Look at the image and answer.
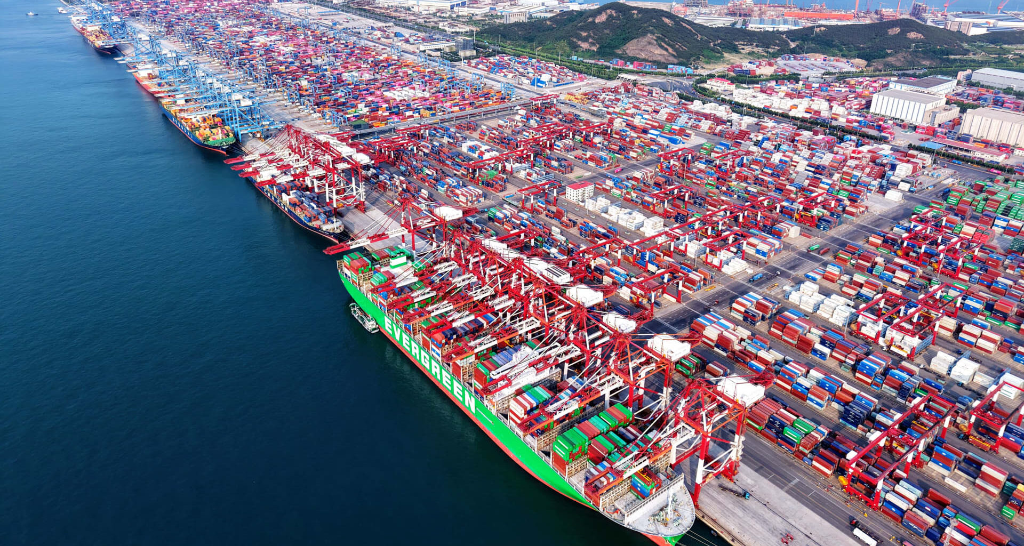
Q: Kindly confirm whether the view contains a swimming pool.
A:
No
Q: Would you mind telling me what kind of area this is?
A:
port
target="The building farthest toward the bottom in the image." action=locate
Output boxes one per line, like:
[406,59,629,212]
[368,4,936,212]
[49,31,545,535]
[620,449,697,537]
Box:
[569,180,599,203]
